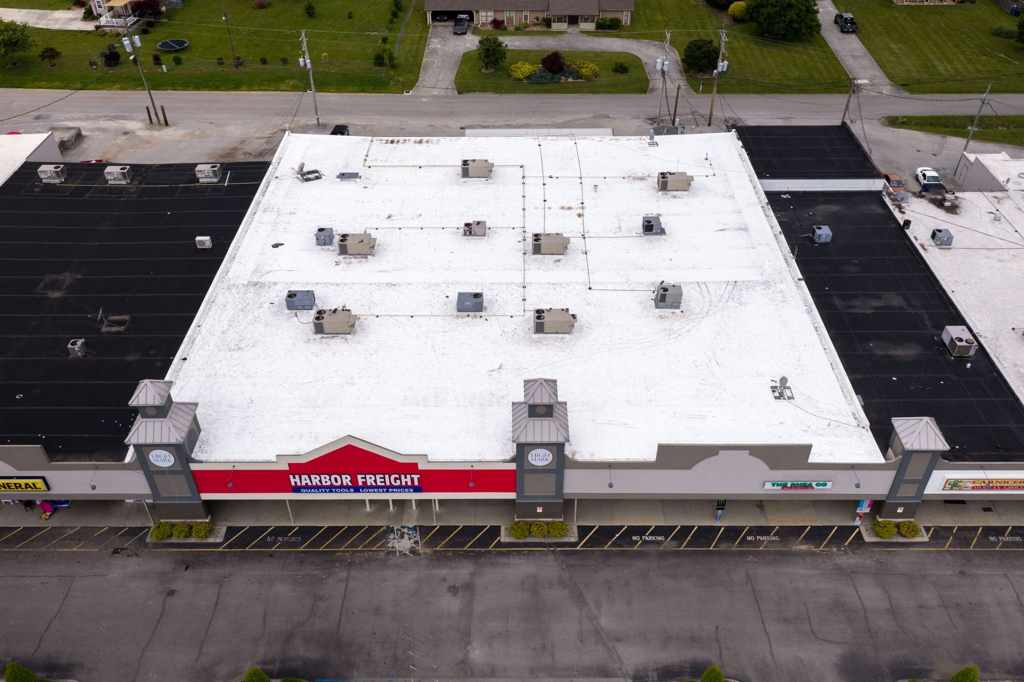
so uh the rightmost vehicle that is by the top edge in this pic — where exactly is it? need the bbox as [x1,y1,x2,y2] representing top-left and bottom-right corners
[836,10,864,30]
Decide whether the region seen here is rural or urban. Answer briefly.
urban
